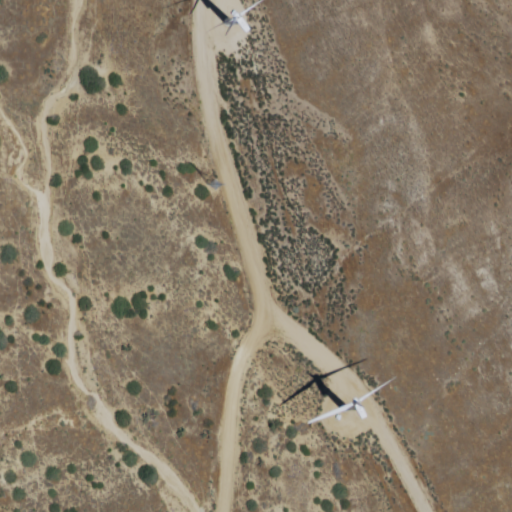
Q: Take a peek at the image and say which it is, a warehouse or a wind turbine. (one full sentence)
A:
I can see a wind turbine in this picture.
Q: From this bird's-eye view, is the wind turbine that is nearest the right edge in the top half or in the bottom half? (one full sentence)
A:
The wind turbine that is nearest the right edge is in the bottom half of the image.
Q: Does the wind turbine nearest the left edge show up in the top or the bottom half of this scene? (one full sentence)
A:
Seen from above, the wind turbine nearest the left edge lies in the top half of the view.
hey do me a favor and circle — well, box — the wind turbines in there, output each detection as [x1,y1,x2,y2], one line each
[212,0,259,32]
[311,379,392,422]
